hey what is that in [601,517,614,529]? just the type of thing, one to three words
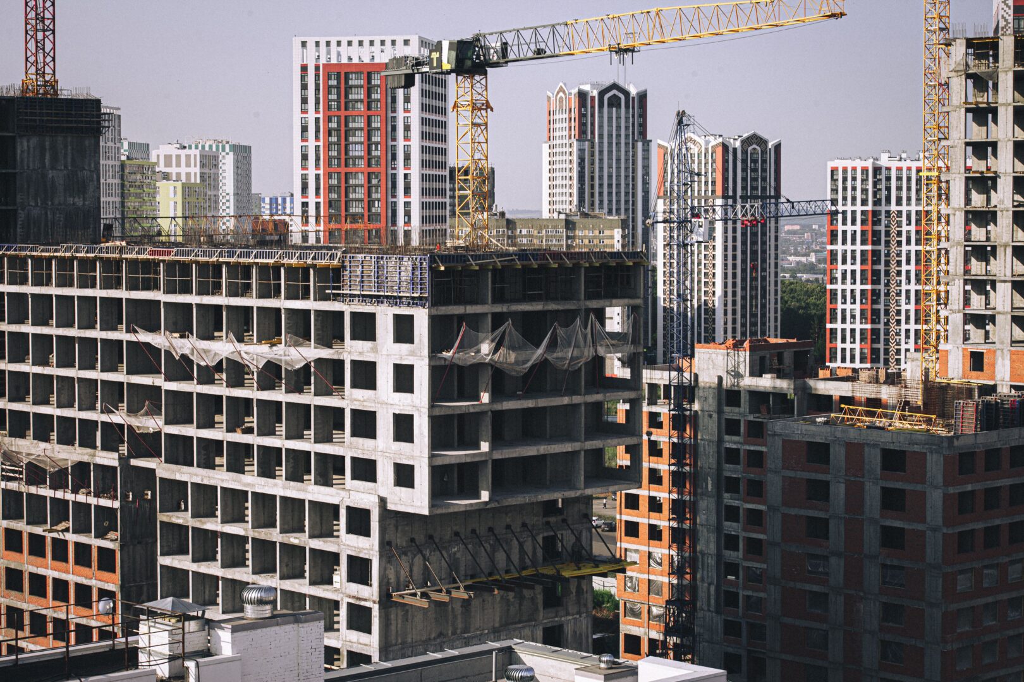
vehicle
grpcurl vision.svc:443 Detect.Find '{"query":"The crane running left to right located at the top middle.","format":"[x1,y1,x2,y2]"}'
[372,0,856,245]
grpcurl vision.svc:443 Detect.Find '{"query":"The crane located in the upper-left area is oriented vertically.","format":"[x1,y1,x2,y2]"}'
[17,0,62,99]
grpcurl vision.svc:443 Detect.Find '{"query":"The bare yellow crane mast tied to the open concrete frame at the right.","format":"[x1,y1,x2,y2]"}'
[920,0,974,413]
